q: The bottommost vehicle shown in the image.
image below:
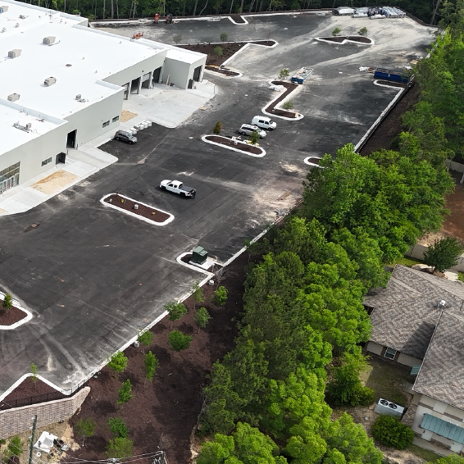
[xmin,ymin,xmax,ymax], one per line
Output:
[158,179,196,196]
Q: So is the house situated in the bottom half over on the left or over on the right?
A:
right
